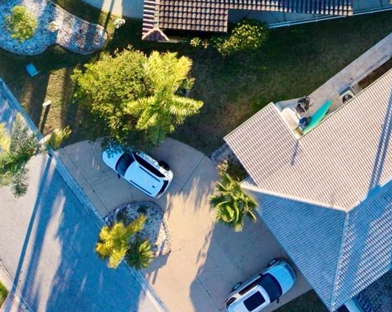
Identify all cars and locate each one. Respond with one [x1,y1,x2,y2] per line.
[223,259,297,312]
[101,142,176,203]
